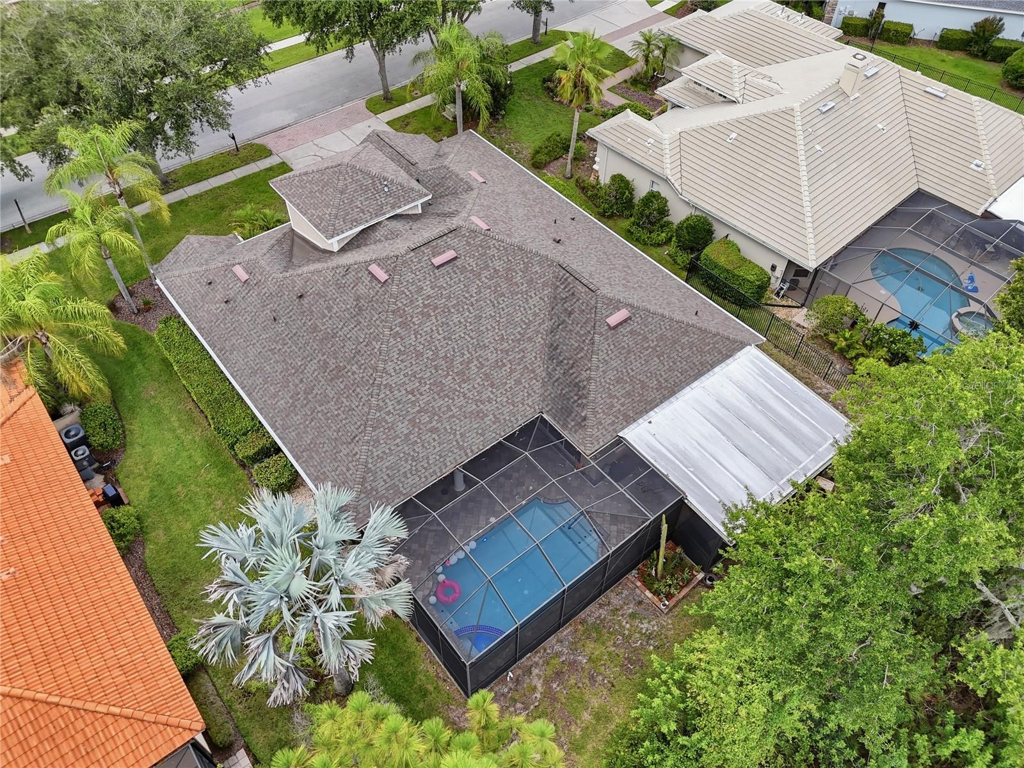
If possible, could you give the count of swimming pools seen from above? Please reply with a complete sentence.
The number of swimming pools here is 2.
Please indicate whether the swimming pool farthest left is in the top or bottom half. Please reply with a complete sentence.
Seen from above, the swimming pool farthest left lies in the bottom half of the view.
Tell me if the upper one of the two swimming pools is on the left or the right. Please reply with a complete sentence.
The upper one of the two swimming pools appears in the right half of the scene.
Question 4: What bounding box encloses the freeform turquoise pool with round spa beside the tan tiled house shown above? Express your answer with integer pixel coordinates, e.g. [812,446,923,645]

[873,248,1002,345]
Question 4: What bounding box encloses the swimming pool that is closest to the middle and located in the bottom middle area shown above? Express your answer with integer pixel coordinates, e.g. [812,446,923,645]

[418,494,613,659]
